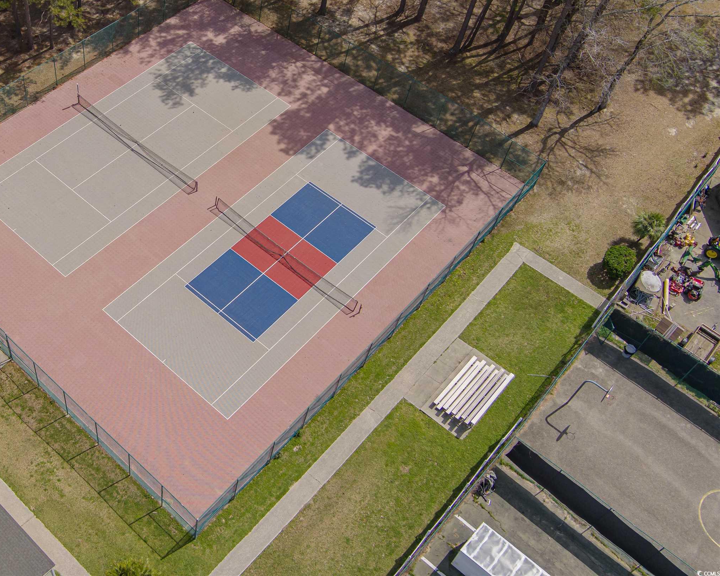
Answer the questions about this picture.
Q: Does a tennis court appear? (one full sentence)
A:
Yes, the photo shows a tennis court.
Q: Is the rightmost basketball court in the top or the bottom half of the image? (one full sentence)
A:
The bottom half of the photo is where the rightmost basketball court is.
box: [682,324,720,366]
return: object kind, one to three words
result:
trailer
